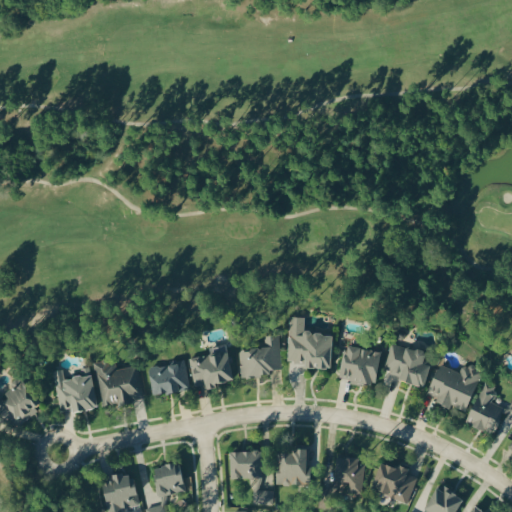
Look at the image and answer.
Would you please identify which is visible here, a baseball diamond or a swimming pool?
swimming pool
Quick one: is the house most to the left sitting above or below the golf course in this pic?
below it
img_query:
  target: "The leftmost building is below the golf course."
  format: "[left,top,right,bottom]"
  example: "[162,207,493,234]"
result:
[0,382,38,420]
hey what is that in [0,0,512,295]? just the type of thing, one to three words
golf course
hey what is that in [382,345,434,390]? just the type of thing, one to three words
house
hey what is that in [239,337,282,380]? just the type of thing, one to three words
house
